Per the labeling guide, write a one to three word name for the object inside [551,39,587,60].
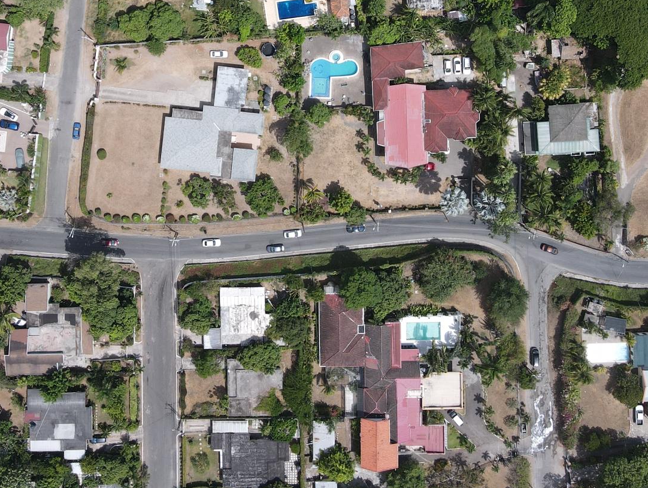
shed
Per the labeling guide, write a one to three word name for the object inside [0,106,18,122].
car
